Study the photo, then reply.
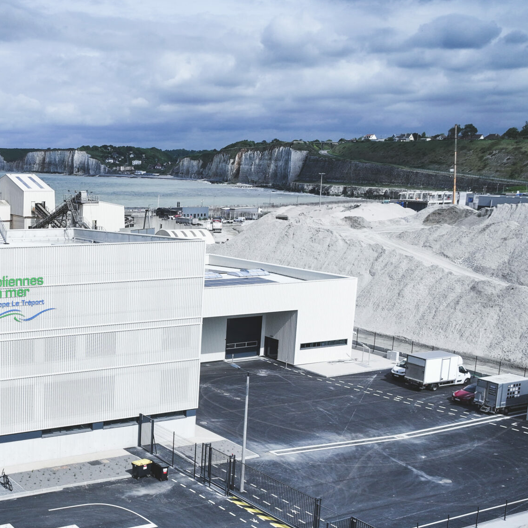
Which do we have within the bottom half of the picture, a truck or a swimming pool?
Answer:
truck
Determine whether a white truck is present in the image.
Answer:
Yes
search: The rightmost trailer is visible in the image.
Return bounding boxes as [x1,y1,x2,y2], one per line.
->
[471,370,528,412]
